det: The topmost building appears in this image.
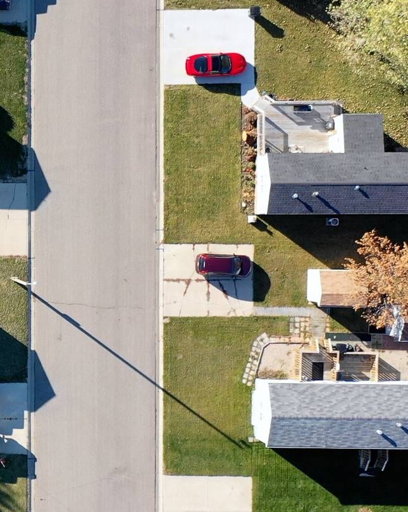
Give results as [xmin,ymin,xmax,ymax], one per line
[253,115,408,216]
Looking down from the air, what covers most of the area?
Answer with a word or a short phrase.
paved ground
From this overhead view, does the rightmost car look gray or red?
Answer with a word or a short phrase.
red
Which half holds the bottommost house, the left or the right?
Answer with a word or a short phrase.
right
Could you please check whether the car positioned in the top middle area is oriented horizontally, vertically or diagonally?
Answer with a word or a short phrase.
horizontally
